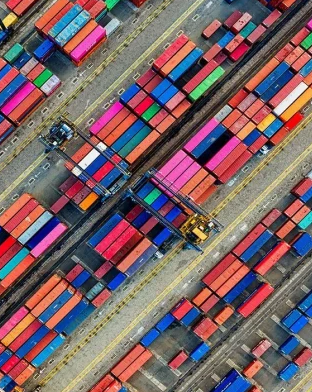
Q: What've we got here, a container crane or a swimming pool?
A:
container crane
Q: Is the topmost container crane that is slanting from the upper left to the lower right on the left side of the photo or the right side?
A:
left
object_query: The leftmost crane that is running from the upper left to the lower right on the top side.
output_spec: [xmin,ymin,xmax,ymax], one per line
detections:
[37,112,133,198]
